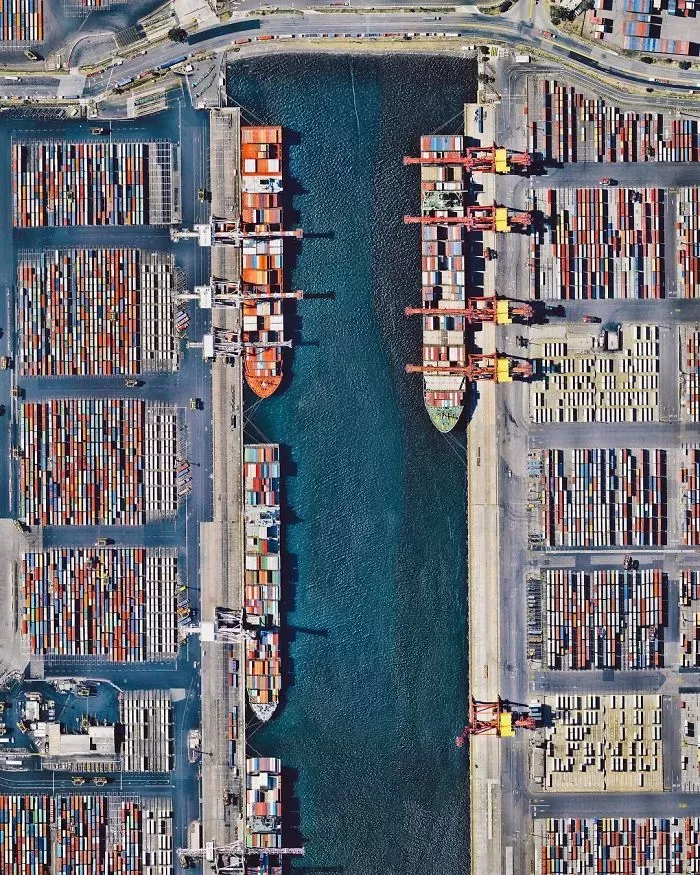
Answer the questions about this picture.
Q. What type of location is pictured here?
port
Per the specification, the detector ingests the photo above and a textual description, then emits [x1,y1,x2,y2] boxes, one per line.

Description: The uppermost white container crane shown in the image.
[168,219,303,254]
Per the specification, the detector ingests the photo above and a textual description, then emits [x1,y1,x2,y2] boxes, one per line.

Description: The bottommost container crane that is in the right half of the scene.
[461,696,538,738]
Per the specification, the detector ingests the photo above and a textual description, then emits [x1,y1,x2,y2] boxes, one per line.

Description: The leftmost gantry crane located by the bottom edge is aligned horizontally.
[182,837,311,875]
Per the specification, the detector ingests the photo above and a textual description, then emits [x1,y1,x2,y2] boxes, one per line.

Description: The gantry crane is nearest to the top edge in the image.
[401,146,534,180]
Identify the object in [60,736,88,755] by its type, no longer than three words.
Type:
building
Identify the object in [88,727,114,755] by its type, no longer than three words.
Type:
building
